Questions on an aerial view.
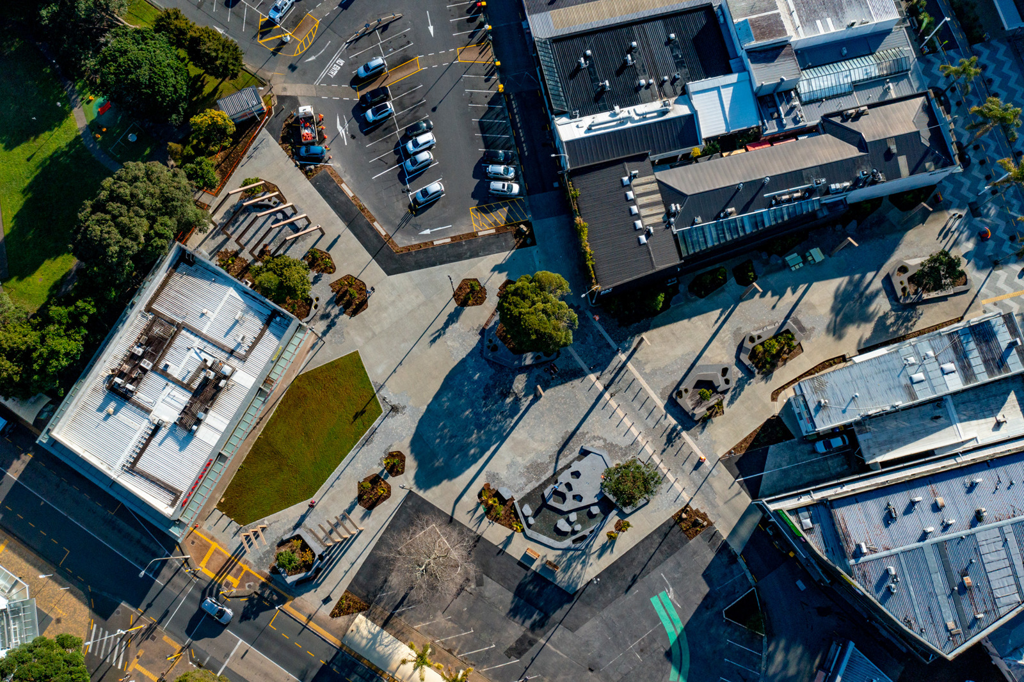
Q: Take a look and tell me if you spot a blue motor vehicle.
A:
Yes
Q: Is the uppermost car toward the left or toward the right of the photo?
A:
left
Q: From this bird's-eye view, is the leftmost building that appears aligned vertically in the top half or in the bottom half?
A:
bottom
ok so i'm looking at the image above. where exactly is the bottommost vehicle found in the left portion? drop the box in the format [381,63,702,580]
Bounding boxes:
[198,594,237,628]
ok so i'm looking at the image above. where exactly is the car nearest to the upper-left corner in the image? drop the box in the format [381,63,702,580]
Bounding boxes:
[269,0,296,23]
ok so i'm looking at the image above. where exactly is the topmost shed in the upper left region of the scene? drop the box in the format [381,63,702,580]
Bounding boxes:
[217,86,272,131]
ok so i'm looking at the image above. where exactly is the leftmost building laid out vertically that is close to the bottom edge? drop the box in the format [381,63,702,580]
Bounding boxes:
[0,566,40,653]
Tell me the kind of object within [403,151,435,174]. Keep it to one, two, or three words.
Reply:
car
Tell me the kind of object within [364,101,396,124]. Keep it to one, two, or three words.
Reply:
car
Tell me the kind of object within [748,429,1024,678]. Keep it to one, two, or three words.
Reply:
building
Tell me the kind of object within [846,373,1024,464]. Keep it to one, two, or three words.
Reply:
building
